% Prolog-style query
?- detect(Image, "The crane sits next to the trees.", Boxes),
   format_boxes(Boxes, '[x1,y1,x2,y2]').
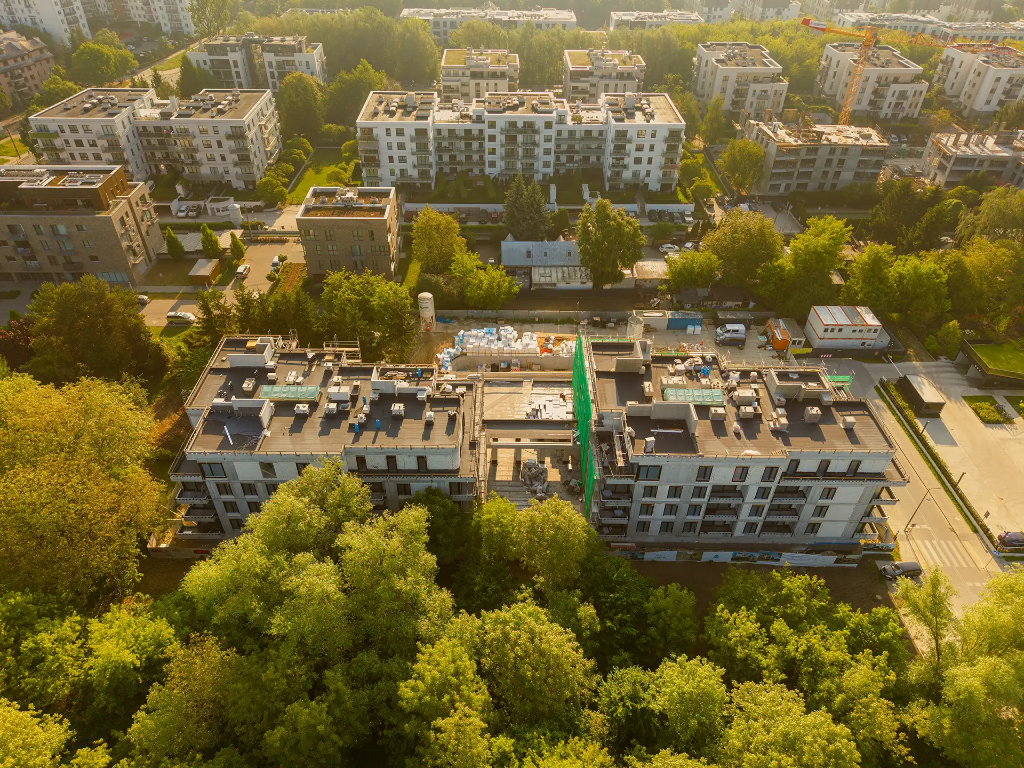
[774,25,1024,127]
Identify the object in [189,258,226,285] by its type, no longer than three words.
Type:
shed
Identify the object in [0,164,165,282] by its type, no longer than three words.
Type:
building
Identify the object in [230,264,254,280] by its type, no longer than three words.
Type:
car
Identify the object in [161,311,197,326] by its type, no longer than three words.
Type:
car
